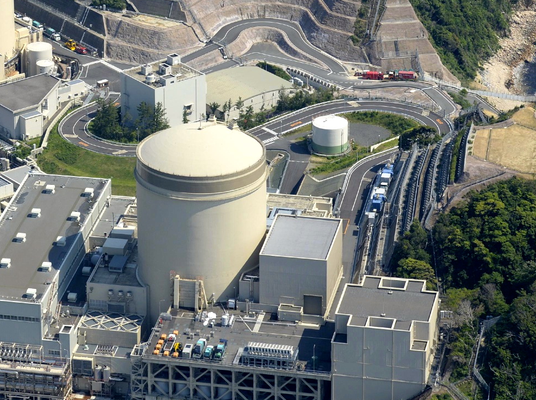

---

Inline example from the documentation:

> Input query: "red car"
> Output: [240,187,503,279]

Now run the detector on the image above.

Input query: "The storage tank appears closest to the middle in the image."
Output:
[312,113,348,153]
